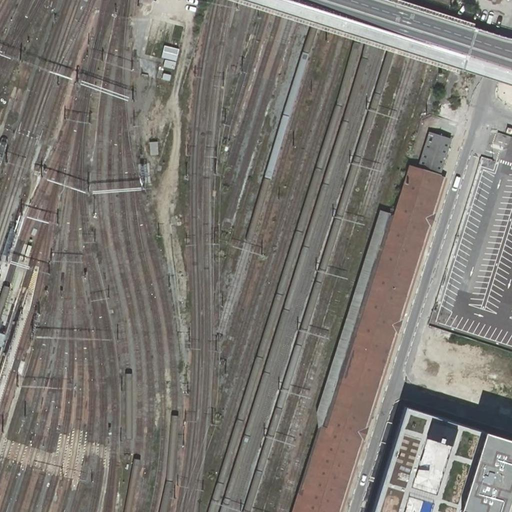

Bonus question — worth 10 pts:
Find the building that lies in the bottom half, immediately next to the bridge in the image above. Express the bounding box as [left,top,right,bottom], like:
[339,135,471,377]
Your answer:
[290,165,445,512]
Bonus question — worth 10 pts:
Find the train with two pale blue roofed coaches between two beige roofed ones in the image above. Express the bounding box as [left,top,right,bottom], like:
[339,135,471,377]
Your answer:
[248,22,321,240]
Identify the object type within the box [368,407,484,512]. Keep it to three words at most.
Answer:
building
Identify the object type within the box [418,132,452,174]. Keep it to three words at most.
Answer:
building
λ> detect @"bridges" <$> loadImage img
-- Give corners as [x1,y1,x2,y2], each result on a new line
[218,0,512,81]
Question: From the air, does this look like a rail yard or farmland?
rail yard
